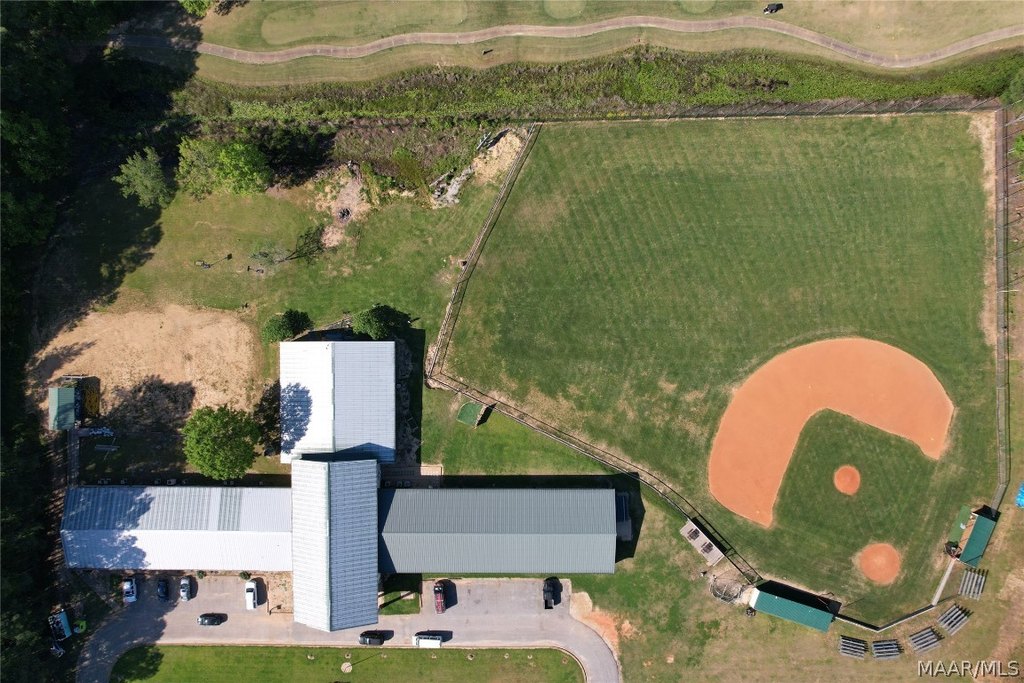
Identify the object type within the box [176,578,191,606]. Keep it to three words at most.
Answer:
car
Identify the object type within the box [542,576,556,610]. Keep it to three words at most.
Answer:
vehicle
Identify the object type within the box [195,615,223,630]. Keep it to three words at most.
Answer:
car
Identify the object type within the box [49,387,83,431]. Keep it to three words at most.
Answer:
shed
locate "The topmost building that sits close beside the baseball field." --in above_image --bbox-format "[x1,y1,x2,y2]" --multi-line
[279,341,397,463]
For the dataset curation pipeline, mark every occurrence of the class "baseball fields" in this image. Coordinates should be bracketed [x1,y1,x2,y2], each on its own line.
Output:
[431,112,998,628]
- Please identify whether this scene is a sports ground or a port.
sports ground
